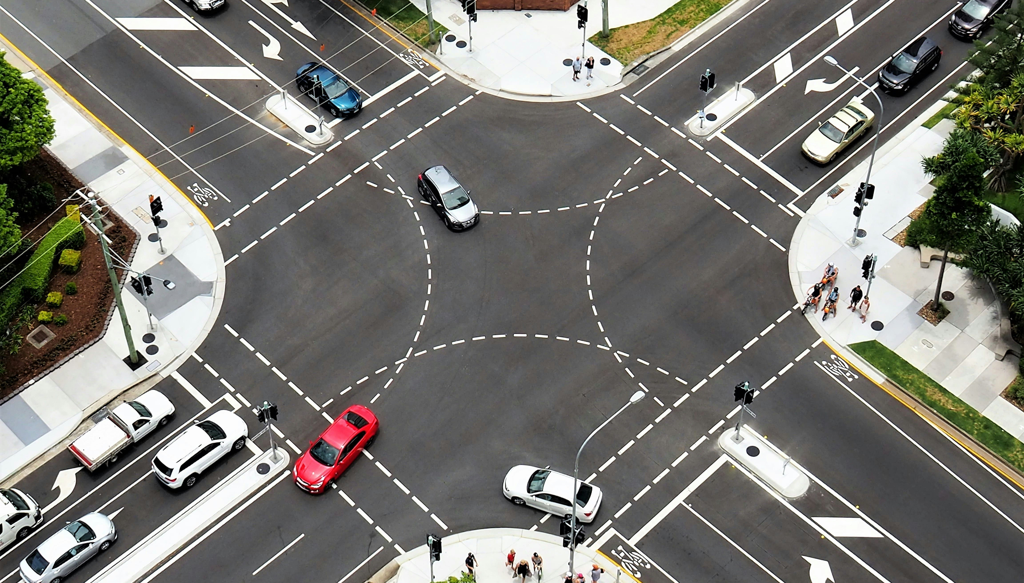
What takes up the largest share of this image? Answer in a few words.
paved ground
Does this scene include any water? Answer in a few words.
No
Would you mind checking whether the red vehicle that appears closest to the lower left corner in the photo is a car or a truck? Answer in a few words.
car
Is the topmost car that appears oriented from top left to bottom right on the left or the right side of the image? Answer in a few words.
left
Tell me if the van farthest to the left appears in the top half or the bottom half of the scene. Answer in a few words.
bottom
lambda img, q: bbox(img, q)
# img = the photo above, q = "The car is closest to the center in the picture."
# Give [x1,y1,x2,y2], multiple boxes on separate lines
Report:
[417,164,479,230]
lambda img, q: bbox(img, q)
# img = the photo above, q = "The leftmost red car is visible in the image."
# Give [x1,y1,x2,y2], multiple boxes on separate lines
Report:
[293,409,378,494]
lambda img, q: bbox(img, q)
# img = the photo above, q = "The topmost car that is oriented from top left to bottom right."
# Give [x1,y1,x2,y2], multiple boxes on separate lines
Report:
[292,59,365,118]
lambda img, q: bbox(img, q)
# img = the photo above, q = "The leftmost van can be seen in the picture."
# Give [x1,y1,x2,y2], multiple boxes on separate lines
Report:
[0,494,40,552]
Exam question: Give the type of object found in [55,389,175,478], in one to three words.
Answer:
truck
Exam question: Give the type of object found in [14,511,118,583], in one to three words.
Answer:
car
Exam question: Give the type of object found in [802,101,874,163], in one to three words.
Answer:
car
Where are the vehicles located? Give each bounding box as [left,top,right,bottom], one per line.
[14,511,118,583]
[876,34,946,94]
[293,409,378,494]
[949,0,1014,39]
[417,164,479,230]
[151,409,249,492]
[0,494,40,552]
[500,464,605,523]
[55,389,175,478]
[292,59,365,118]
[186,0,226,12]
[802,101,874,163]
